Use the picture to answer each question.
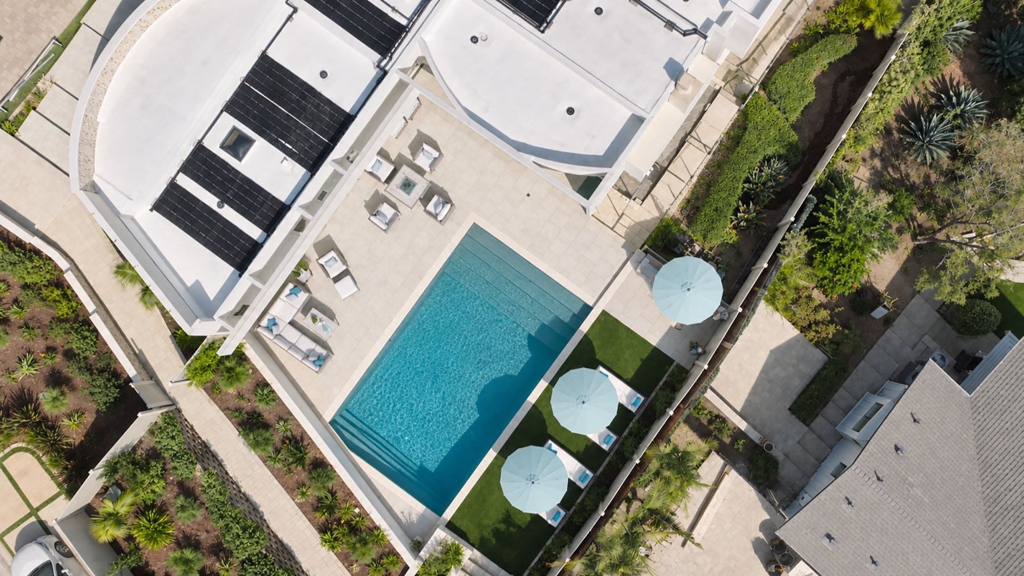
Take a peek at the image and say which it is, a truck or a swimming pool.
swimming pool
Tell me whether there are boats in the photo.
No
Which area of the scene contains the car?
bottom left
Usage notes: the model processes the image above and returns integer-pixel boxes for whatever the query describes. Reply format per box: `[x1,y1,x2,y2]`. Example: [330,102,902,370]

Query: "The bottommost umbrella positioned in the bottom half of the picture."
[499,443,568,513]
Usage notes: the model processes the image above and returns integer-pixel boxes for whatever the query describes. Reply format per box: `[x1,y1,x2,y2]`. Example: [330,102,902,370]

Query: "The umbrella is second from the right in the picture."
[549,366,618,435]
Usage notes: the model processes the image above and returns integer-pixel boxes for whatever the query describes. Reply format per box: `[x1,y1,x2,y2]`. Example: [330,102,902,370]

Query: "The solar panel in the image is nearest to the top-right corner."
[498,0,560,30]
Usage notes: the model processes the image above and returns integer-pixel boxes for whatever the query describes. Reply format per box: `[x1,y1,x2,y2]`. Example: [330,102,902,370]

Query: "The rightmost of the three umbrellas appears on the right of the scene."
[651,256,721,325]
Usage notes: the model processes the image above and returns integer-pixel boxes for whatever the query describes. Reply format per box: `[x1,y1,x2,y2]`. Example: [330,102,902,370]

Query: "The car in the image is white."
[11,532,86,576]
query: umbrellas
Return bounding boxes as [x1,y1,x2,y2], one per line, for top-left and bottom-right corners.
[549,366,618,435]
[499,443,568,513]
[651,256,721,325]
